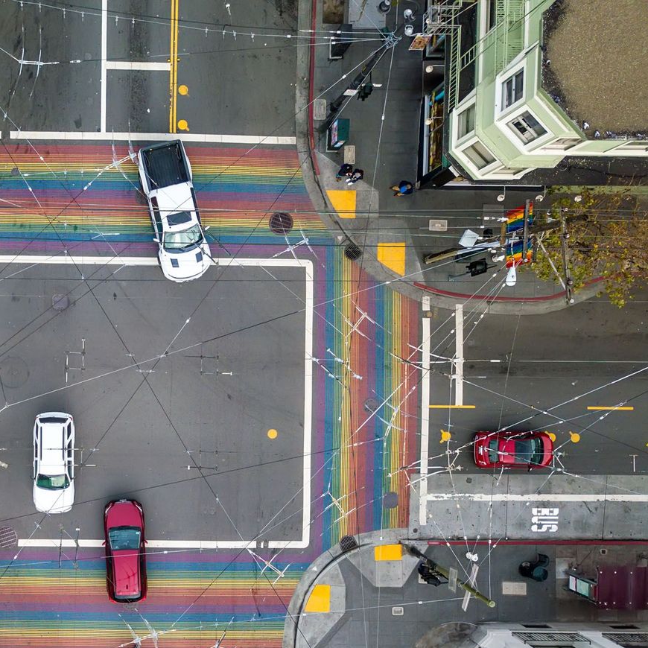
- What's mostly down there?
paved ground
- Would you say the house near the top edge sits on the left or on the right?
right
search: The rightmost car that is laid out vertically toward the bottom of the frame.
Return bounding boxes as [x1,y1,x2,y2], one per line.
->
[100,499,150,601]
